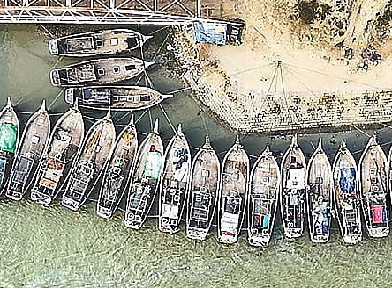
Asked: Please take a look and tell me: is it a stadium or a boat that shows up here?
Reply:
boat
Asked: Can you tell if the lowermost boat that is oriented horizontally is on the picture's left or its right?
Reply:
left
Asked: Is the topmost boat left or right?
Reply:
left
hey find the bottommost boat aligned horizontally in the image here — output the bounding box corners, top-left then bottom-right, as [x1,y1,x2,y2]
[67,85,173,110]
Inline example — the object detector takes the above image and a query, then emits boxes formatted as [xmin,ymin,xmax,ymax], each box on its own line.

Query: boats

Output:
[159,124,190,234]
[32,98,82,205]
[0,97,19,199]
[67,85,173,110]
[50,31,152,59]
[124,119,162,230]
[246,145,280,247]
[279,134,306,238]
[96,115,138,219]
[52,57,155,89]
[62,109,113,211]
[216,136,249,246]
[305,138,332,245]
[332,140,362,245]
[186,135,218,241]
[6,100,49,200]
[359,132,390,238]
